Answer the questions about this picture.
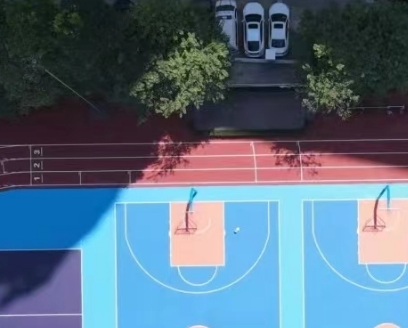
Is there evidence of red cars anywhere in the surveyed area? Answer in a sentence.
No, the frame has no red car in it.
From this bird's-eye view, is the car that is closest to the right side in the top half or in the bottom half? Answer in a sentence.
The top half of the photo is where the car that is closest to the right side is.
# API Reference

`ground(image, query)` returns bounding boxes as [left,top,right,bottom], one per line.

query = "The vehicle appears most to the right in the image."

[266,4,291,58]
